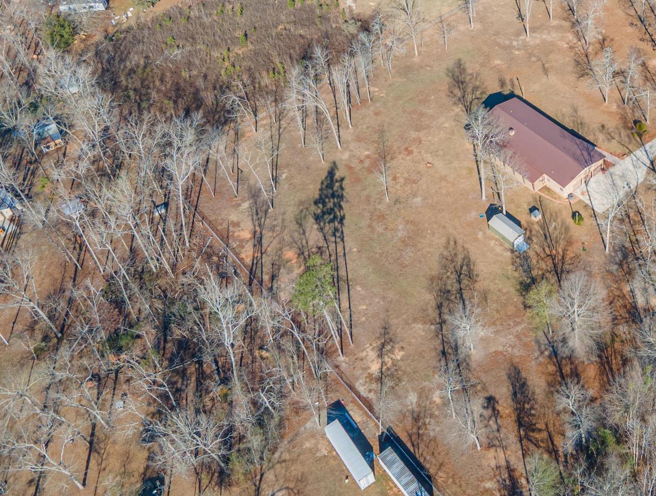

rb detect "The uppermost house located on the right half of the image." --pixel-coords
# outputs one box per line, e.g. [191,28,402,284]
[462,101,612,196]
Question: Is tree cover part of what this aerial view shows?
Yes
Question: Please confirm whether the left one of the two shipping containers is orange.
No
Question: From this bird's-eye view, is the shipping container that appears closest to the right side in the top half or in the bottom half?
bottom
